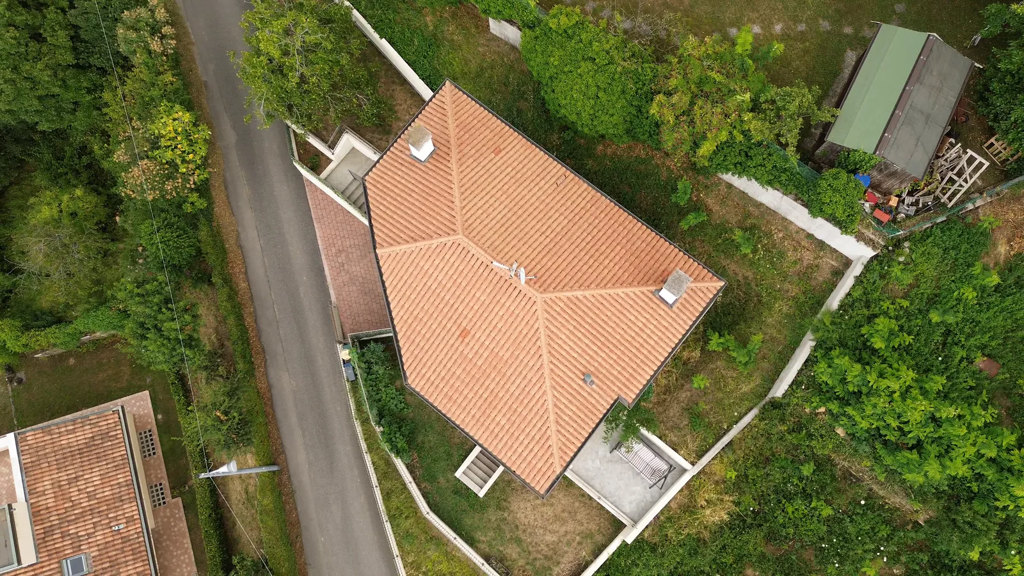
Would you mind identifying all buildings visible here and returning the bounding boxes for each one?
[813,20,983,191]
[363,80,727,498]
[0,406,170,576]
